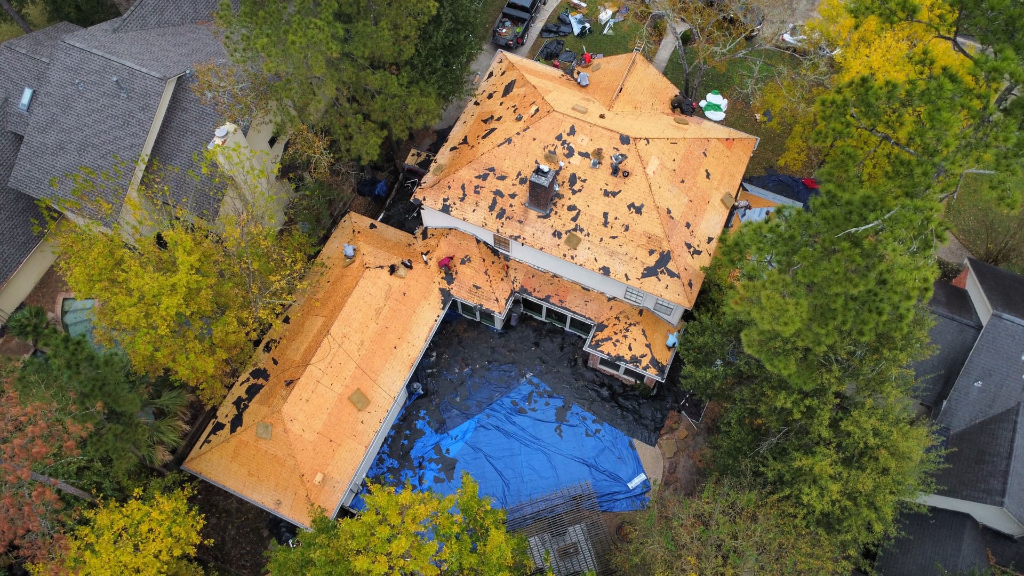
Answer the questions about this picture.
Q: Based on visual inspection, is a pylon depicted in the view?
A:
No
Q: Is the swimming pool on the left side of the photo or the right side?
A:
left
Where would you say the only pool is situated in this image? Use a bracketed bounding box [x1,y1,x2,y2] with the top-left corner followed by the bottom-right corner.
[56,291,187,400]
